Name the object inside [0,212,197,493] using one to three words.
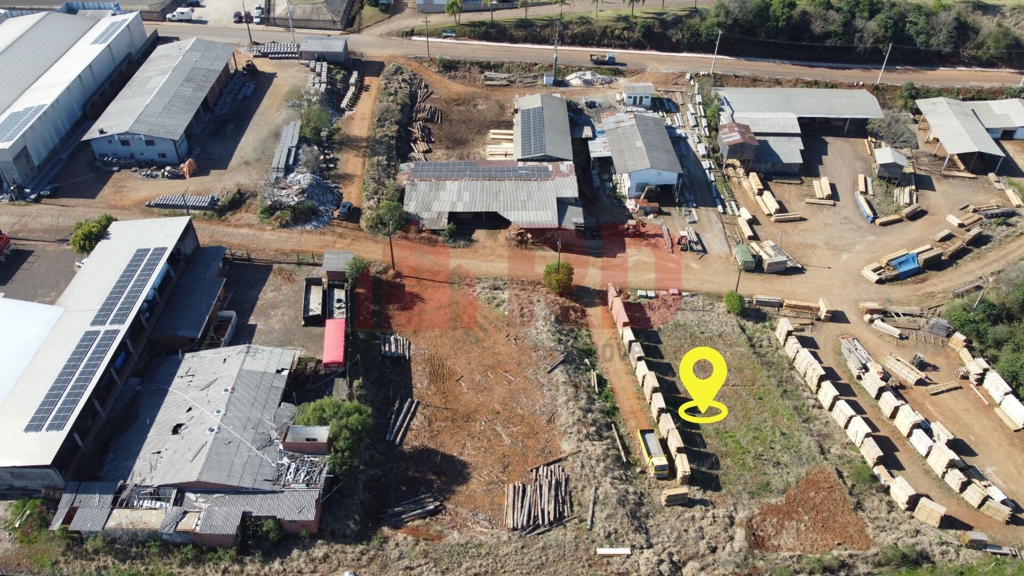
building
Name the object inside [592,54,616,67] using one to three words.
vehicle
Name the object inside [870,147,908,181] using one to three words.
shed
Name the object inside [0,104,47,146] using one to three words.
solar array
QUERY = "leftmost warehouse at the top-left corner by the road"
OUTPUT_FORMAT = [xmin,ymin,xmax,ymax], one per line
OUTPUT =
[0,0,146,187]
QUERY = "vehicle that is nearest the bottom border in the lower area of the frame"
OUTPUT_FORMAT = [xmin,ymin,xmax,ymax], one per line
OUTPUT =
[640,426,673,477]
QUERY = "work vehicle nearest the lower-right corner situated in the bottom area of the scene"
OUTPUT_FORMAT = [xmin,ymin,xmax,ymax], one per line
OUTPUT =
[907,345,940,373]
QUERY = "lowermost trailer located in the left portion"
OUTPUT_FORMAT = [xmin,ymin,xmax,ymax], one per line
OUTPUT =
[323,319,349,381]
